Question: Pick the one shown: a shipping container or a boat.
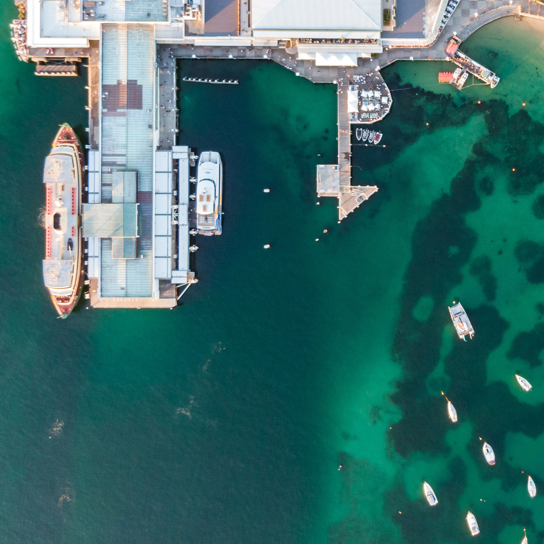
boat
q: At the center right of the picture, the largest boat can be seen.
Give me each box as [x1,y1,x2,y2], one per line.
[449,302,475,338]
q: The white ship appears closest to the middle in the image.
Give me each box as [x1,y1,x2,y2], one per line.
[196,152,221,235]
